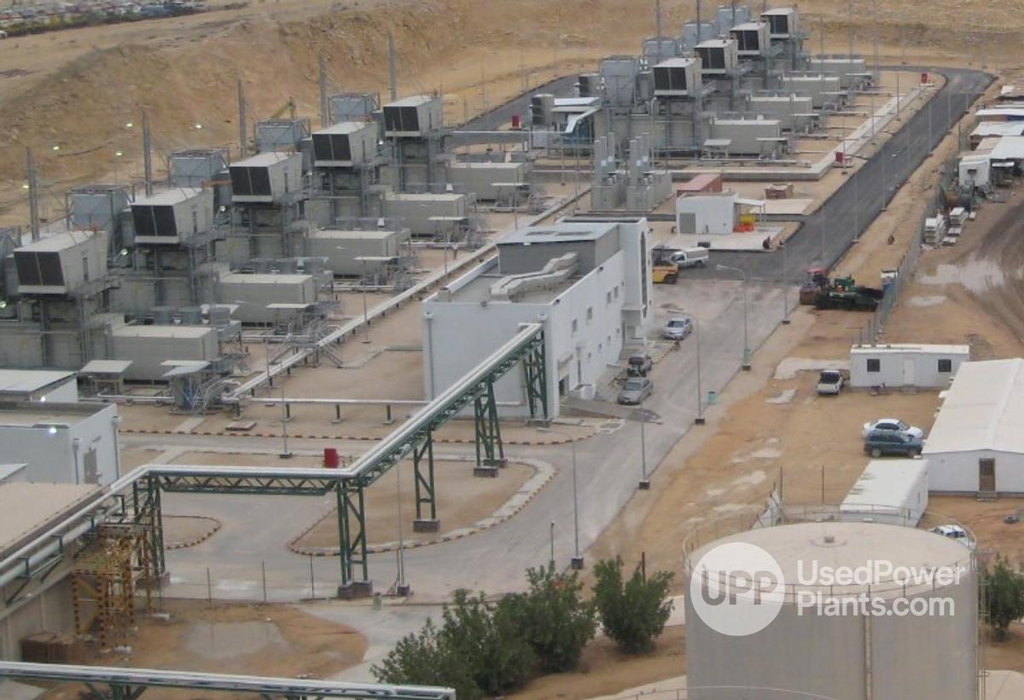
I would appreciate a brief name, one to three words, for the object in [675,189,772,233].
building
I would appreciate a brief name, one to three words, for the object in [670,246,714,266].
vehicle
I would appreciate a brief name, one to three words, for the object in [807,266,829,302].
work vehicle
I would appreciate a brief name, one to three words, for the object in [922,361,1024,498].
building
